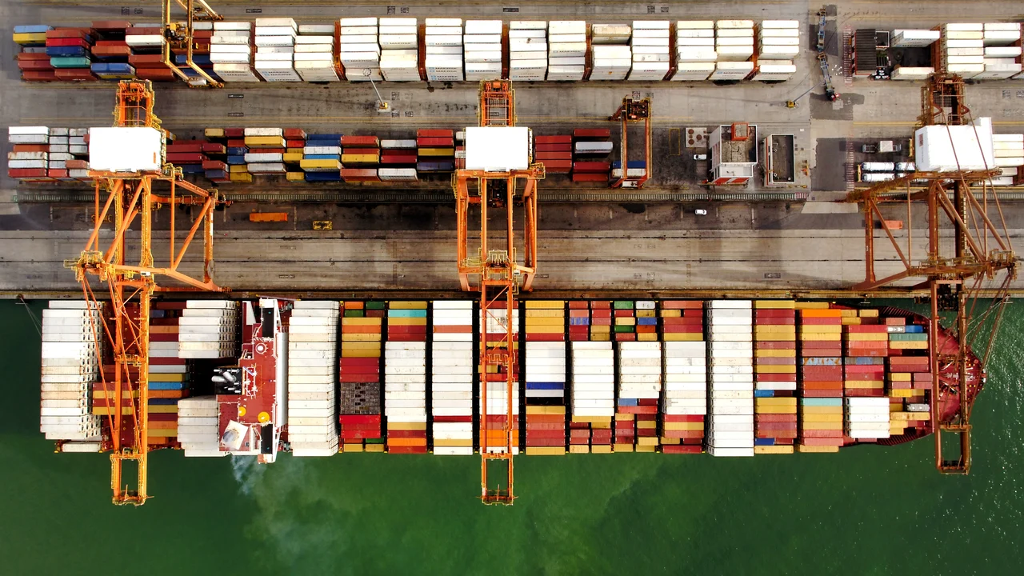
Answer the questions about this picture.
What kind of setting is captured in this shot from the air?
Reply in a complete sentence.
The picture captures a port.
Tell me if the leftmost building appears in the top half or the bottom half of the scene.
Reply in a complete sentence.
The leftmost building sits in the top half of the picture.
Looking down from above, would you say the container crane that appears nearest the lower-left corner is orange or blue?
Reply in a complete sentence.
From above, the container crane that appears nearest the lower-left corner appears orange.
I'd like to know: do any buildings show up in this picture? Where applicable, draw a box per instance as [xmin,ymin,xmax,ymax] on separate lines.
[850,30,876,79]
[764,134,796,186]
[703,120,758,183]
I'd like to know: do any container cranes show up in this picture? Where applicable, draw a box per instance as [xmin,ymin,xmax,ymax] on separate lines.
[64,79,233,506]
[608,97,656,190]
[454,78,548,507]
[161,0,224,88]
[839,71,1013,476]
